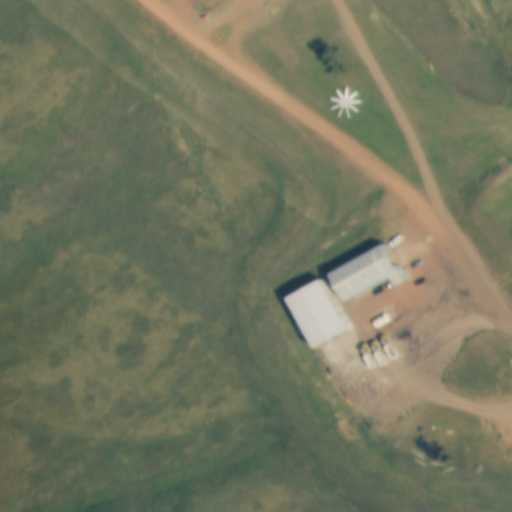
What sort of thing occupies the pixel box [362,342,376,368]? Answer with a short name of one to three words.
vehicle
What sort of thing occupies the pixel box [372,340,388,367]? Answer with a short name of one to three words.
vehicle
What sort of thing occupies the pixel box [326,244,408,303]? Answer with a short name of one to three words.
barn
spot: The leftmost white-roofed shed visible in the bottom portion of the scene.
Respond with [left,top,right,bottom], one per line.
[284,280,353,348]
